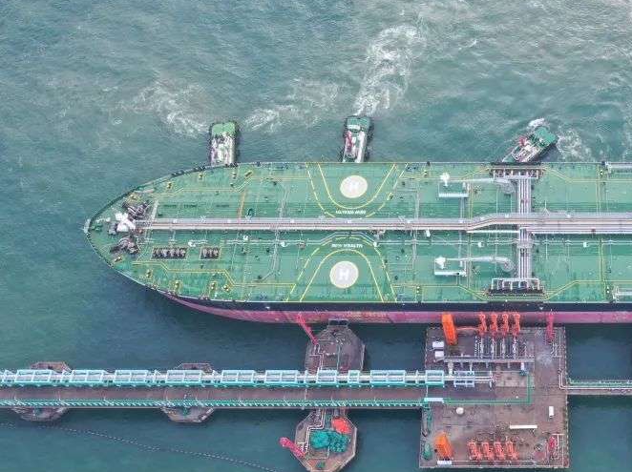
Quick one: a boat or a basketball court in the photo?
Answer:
boat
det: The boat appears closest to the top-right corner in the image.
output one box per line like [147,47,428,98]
[497,125,557,162]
